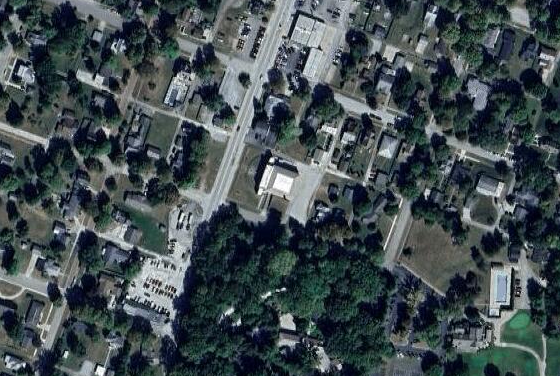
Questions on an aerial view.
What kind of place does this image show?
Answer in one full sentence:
The area seen from above is a residential area.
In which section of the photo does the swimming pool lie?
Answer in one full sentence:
The swimming pool is located in the bottom right region of the scene.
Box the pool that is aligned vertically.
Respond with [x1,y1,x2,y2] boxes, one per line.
[491,263,514,310]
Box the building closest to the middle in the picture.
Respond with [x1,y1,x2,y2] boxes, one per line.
[257,158,299,197]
